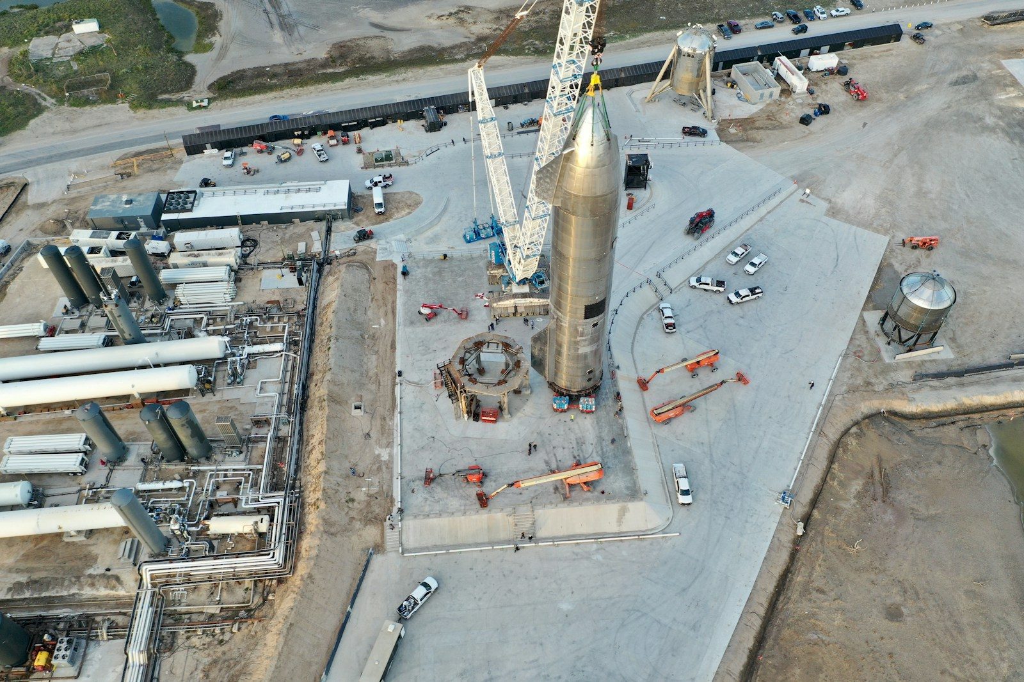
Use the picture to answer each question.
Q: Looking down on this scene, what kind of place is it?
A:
industrial area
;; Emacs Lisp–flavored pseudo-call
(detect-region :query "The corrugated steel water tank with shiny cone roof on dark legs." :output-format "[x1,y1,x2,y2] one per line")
[881,274,960,358]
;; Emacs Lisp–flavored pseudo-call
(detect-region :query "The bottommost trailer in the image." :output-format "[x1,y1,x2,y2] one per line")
[357,617,402,682]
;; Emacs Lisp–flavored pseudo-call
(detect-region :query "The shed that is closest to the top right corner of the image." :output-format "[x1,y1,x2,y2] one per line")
[751,18,905,64]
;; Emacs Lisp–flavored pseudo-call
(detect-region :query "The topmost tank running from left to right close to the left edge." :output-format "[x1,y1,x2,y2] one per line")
[0,338,233,383]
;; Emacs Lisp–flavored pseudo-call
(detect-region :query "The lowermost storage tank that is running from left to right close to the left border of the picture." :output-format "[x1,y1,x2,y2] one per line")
[0,502,131,545]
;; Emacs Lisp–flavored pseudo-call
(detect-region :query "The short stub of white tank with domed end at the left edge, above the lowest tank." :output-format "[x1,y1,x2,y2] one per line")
[0,480,43,511]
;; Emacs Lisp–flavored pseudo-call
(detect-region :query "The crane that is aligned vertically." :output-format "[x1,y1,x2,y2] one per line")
[471,0,604,307]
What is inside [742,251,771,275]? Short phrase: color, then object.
white truck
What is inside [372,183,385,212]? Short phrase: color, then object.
white vehicle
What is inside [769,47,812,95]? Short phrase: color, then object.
white trailer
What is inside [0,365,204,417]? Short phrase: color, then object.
white storage tank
